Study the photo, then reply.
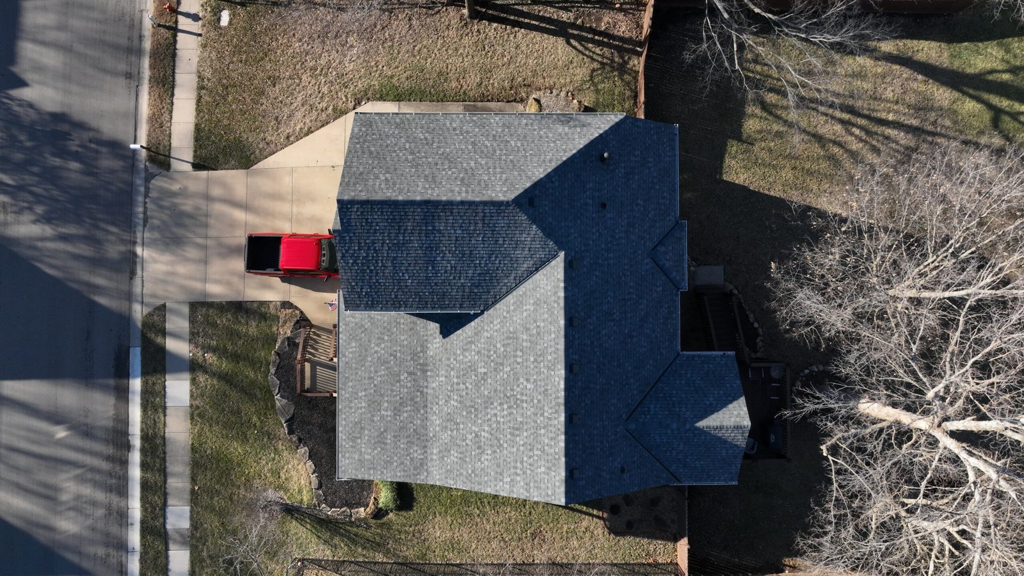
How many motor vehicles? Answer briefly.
1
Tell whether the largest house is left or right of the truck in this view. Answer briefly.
to its right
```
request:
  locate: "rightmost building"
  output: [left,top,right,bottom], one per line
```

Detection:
[332,112,751,506]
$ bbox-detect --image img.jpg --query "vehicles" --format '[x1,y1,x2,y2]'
[241,227,340,281]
